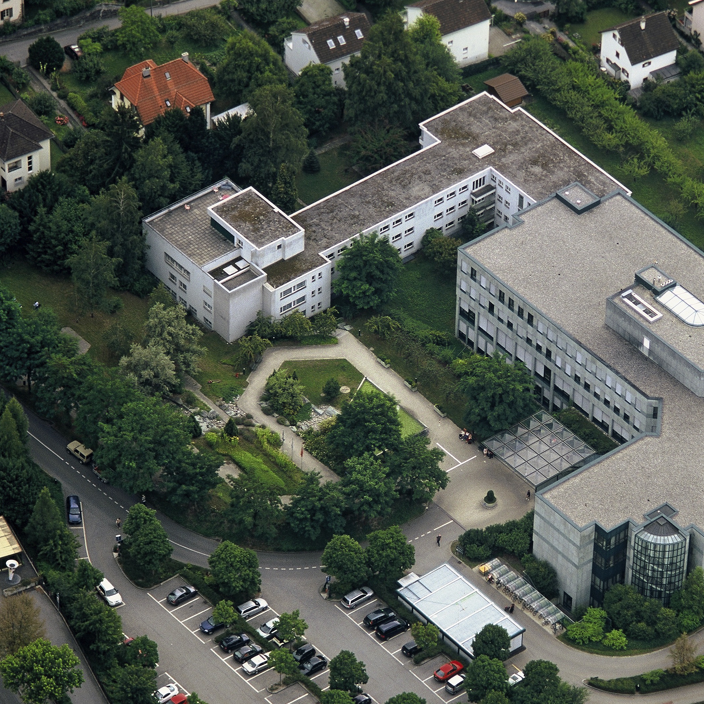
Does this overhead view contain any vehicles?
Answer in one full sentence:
Yes, this view includes a vehicle.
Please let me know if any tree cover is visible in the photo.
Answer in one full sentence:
Yes, there's tree cover in this view.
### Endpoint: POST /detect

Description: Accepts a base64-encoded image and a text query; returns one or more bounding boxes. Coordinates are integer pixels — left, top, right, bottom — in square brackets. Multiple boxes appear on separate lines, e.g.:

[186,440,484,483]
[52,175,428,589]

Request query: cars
[164,584,199,605]
[66,496,82,523]
[152,682,183,704]
[339,587,375,607]
[290,640,318,664]
[199,616,231,633]
[218,630,253,654]
[376,619,410,641]
[231,641,267,663]
[63,44,85,60]
[297,655,330,677]
[254,611,280,638]
[398,639,428,658]
[362,608,398,629]
[240,650,272,674]
[442,674,472,695]
[235,597,270,619]
[97,576,121,605]
[66,439,96,461]
[272,633,302,649]
[432,661,465,682]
